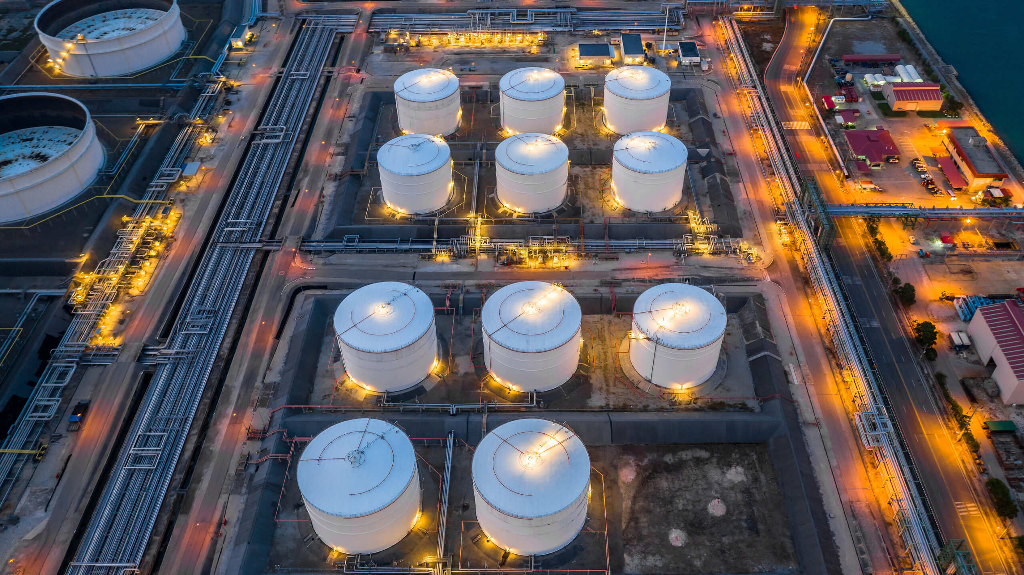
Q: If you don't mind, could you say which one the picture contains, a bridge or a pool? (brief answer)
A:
bridge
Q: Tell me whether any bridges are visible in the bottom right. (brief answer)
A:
Yes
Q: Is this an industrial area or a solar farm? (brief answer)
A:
industrial area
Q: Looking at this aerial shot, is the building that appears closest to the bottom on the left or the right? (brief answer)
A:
right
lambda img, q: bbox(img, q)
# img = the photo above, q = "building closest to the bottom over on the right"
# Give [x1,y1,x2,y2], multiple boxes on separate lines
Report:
[967,300,1024,405]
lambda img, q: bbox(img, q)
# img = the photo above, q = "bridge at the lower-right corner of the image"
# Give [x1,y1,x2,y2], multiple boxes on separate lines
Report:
[950,531,1001,575]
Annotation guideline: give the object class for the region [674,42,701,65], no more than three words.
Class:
building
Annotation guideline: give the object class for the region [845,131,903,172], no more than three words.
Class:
house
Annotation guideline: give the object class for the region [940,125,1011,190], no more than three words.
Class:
building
